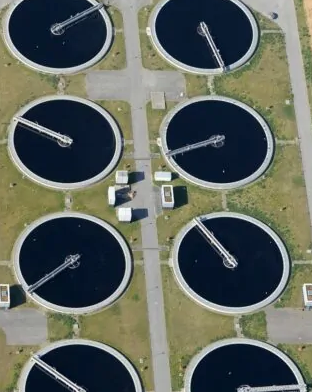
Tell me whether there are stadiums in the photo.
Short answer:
No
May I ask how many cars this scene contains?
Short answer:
0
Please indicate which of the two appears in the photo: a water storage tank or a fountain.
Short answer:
water storage tank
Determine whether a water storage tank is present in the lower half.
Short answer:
Yes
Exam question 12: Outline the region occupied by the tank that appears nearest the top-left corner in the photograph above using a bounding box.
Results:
[2,0,113,75]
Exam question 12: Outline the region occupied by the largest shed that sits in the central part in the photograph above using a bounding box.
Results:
[161,185,175,211]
